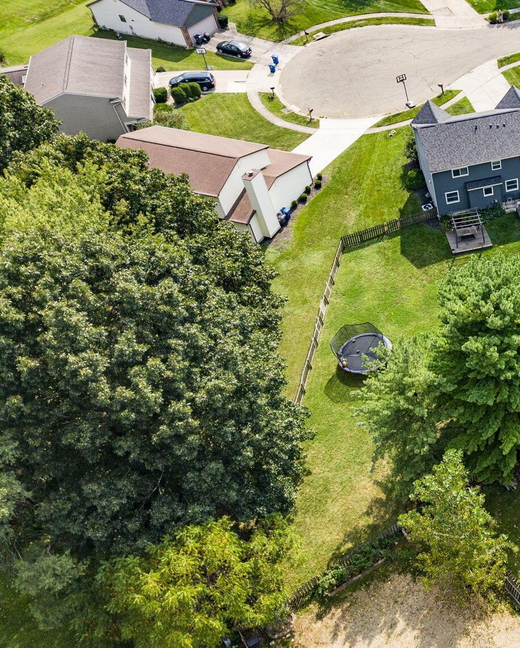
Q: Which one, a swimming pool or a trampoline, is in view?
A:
trampoline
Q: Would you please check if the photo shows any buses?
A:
No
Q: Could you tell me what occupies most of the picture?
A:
trees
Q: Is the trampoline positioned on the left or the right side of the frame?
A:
right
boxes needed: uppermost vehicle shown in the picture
[212,39,252,58]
